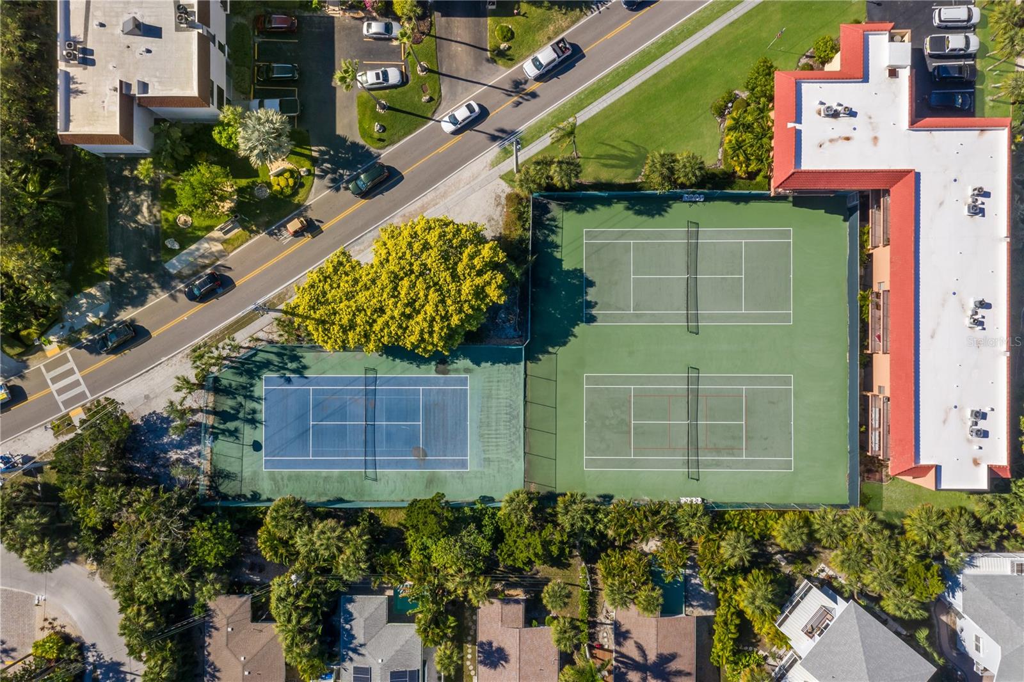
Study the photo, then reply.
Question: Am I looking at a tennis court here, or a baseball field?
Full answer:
Visible in the photo is a tennis court.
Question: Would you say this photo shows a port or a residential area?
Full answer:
The area seen from above is a residential area.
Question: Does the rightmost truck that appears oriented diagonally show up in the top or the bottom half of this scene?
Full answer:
Seen from above, the rightmost truck that appears oriented diagonally lies in the top half of the view.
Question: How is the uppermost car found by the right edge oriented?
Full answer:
The uppermost car found by the right edge is laid out horizontally.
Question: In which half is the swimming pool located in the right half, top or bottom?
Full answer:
The bottom half of the photo is where the swimming pool located in the right half is.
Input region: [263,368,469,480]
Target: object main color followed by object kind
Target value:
blue tennis court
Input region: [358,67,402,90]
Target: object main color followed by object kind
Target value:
white car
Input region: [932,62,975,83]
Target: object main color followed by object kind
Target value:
black car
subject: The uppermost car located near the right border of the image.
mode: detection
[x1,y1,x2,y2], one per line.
[932,5,979,28]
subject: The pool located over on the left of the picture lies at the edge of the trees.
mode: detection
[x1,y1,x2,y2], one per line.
[392,585,422,616]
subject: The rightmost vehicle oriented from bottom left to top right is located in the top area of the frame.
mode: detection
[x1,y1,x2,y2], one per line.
[523,36,573,80]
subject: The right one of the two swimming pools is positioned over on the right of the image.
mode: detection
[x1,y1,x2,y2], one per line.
[649,553,687,613]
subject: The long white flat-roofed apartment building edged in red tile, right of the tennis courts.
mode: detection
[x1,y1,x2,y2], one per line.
[761,24,1010,489]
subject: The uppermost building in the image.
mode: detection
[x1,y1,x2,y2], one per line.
[58,0,229,150]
